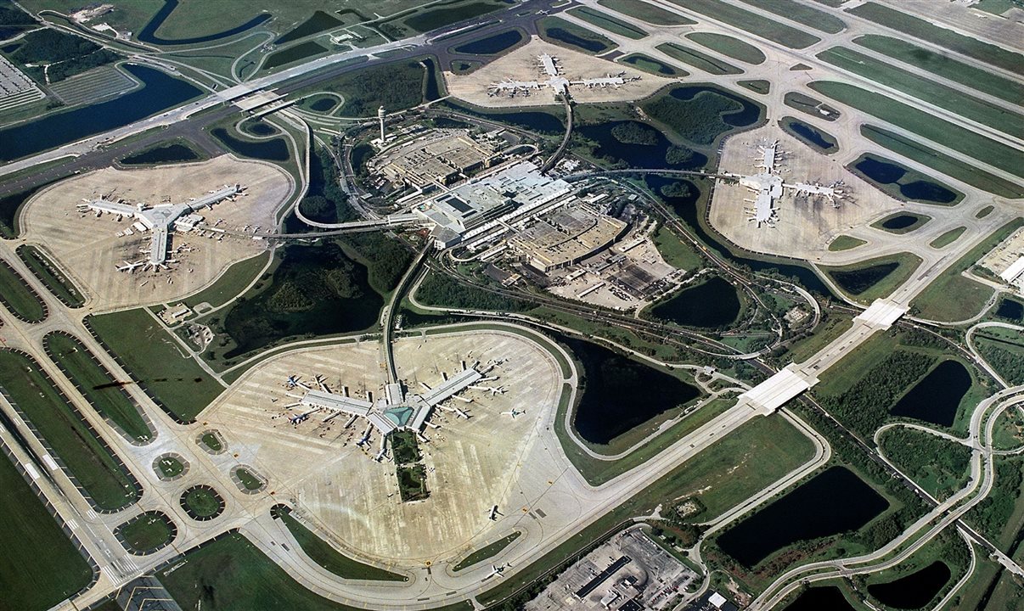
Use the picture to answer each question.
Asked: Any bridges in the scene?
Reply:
Yes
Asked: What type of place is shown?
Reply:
airport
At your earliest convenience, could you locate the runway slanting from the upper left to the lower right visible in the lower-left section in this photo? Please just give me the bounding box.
[0,394,141,584]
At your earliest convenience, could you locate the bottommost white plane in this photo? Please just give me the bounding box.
[487,556,514,577]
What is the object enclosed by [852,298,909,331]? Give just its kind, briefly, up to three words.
bridge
